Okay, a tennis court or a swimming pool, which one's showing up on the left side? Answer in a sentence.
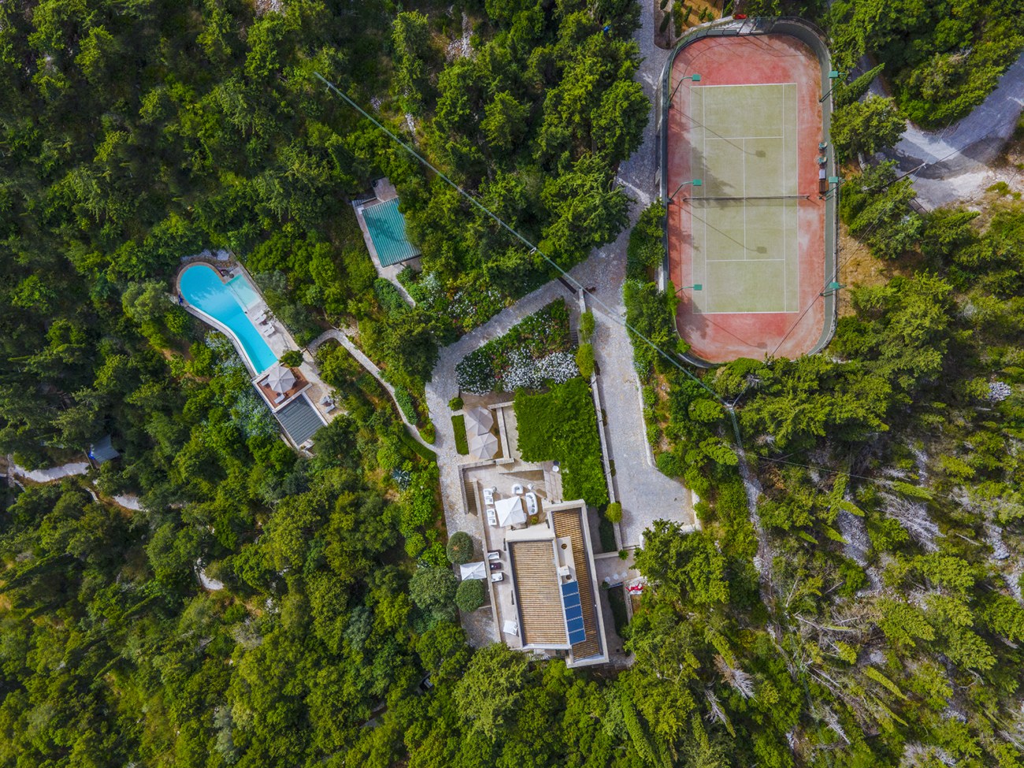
The feature located on the left side is a swimming pool.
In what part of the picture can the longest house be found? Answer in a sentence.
You can find the longest house in the bottom area of the picture.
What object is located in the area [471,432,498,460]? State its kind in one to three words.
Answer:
umbrella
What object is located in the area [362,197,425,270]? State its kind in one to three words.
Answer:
building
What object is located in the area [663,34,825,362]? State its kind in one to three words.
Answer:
tennis court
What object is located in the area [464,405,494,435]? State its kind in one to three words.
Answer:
umbrella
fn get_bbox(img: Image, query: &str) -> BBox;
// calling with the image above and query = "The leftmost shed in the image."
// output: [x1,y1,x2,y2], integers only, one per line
[94,434,131,463]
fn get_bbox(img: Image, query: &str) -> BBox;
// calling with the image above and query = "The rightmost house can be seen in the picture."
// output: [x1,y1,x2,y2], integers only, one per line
[504,498,609,668]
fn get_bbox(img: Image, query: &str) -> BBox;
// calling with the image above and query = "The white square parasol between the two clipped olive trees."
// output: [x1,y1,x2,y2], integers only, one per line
[462,560,485,579]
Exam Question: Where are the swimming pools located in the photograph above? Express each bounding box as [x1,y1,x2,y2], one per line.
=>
[176,261,282,379]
